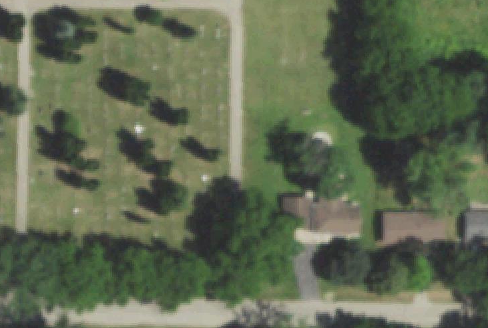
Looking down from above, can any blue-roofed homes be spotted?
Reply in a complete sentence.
No, the frame has no blue-roofed home in it.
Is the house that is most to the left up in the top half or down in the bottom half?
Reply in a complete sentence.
You can find the house that is most to the left in the bottom half.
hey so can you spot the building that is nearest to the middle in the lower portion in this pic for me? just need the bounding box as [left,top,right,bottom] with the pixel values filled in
[279,193,364,234]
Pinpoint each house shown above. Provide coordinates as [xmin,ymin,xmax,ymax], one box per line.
[382,211,447,241]
[279,193,364,234]
[463,203,488,241]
